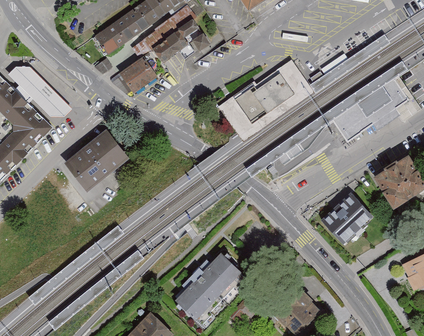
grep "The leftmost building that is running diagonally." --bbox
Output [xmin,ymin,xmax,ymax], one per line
[10,66,72,116]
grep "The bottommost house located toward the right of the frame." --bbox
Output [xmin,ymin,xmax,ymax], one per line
[282,291,320,334]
